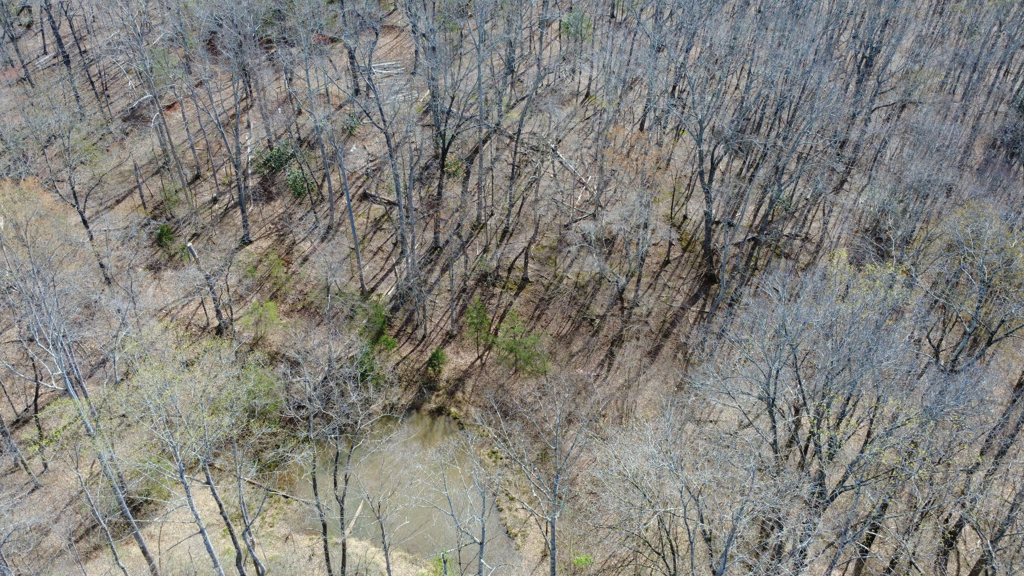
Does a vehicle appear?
No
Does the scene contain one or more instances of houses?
No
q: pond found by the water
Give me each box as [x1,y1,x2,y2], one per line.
[274,409,517,568]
